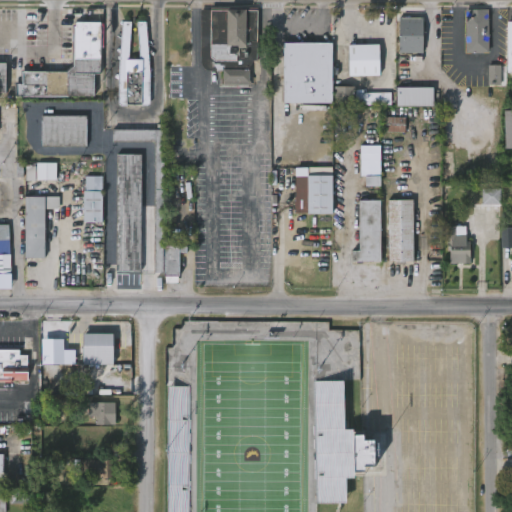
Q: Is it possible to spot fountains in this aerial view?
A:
No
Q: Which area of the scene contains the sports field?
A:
bottom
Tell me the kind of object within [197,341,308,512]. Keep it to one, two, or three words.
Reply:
sports field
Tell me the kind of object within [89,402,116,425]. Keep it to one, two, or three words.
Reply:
house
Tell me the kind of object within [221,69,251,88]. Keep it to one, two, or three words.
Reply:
building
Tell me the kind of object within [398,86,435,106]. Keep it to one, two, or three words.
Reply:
shed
